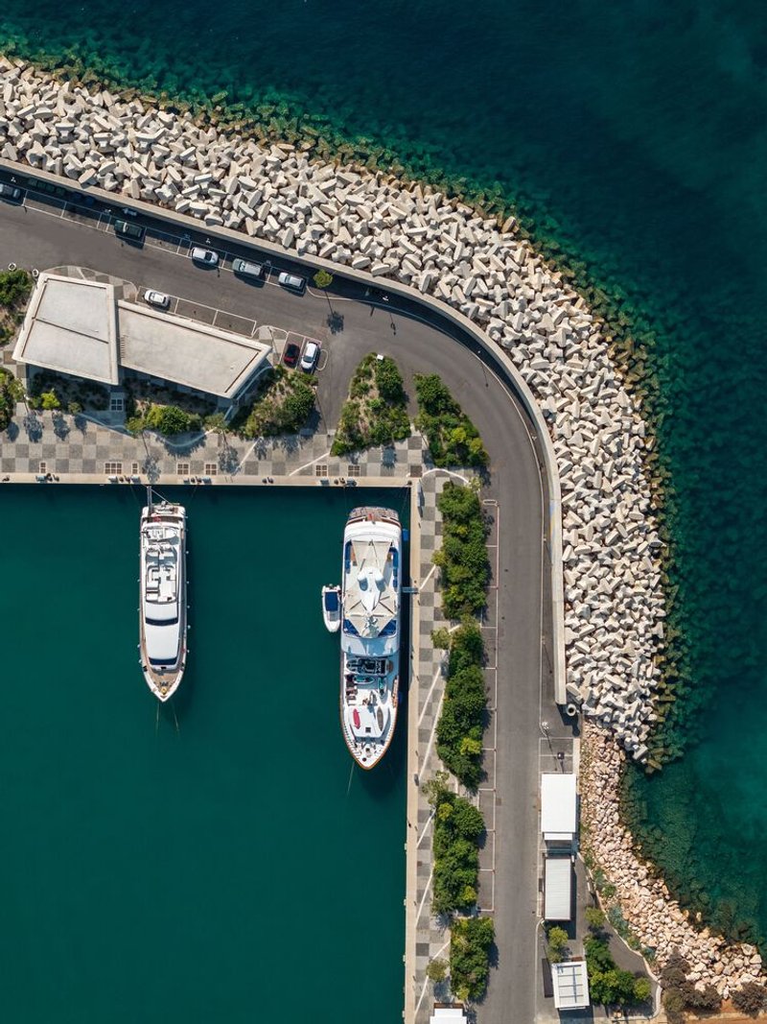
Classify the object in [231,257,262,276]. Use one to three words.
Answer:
car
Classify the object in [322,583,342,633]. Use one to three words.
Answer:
boat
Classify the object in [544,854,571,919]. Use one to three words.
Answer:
shed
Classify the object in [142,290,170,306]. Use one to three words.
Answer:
car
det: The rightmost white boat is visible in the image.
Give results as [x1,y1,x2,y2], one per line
[340,485,418,791]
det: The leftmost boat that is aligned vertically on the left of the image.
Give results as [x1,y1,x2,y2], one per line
[137,485,196,724]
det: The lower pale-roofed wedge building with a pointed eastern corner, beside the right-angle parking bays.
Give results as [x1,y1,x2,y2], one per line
[119,300,272,398]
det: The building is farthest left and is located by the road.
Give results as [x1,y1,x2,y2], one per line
[12,272,122,385]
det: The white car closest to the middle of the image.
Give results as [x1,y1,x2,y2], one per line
[301,340,318,370]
